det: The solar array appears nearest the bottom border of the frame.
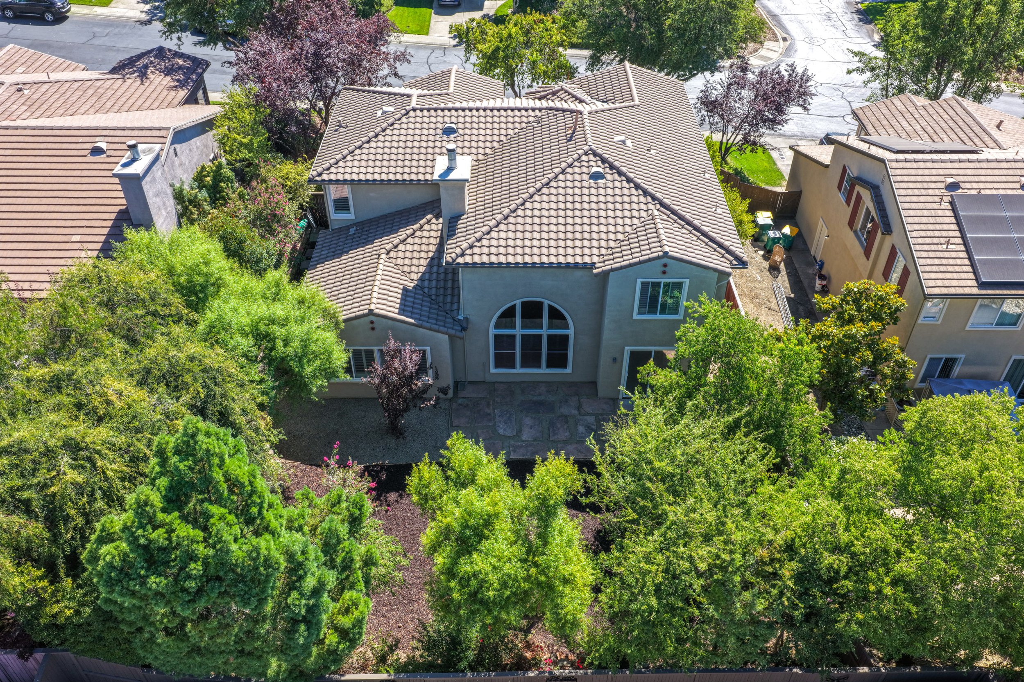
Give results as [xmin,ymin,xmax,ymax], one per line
[951,194,1024,287]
